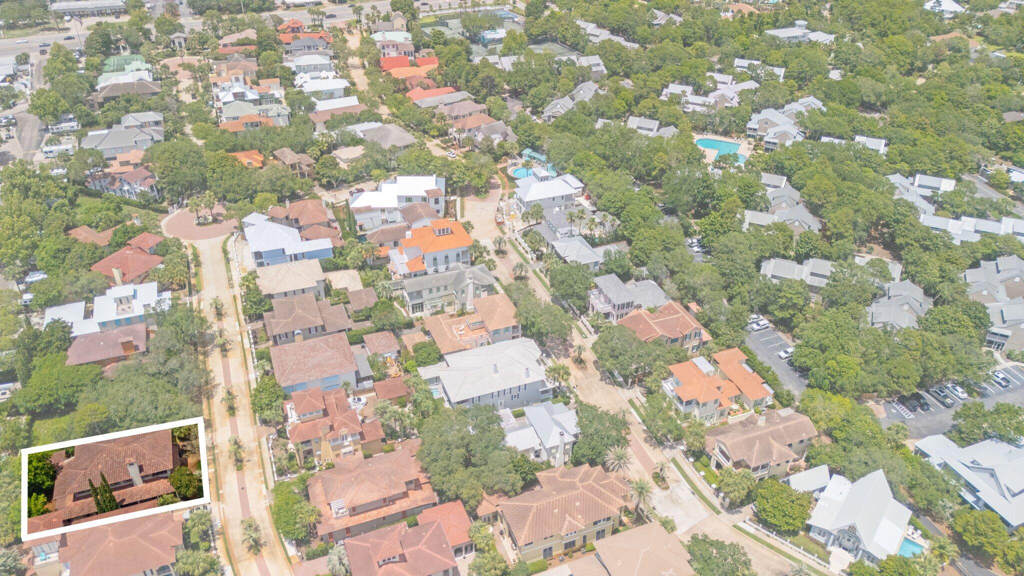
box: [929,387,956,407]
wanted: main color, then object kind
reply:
gray vehicle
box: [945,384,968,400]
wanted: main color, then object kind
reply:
white car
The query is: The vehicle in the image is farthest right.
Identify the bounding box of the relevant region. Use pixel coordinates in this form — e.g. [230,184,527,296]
[988,369,1016,388]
